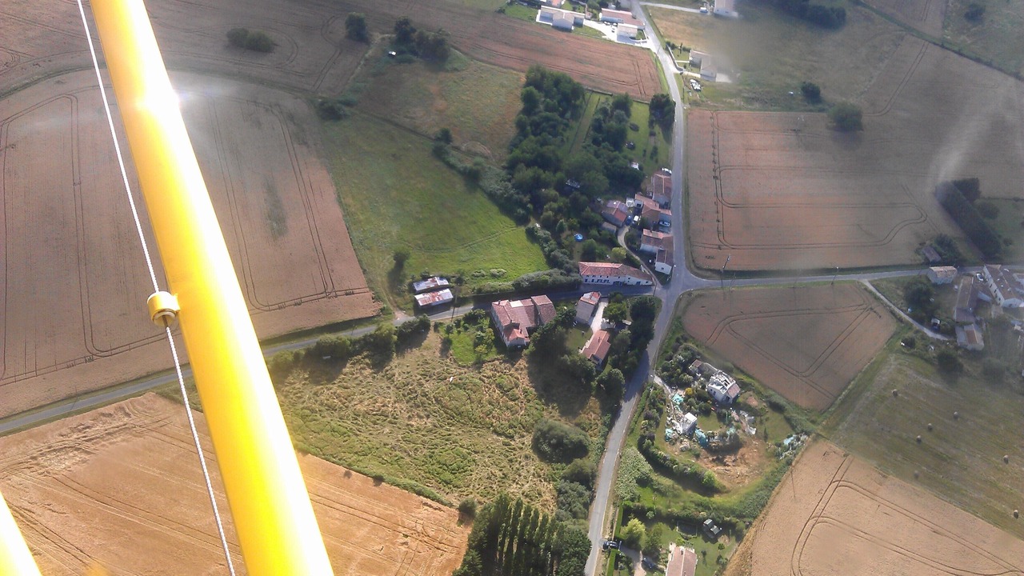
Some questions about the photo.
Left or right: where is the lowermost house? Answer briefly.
right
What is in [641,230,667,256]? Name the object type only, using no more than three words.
house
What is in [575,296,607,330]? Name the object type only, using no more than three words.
house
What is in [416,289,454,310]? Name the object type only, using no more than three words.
barn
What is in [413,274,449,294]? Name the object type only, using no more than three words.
barn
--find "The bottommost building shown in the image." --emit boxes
[661,545,694,576]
